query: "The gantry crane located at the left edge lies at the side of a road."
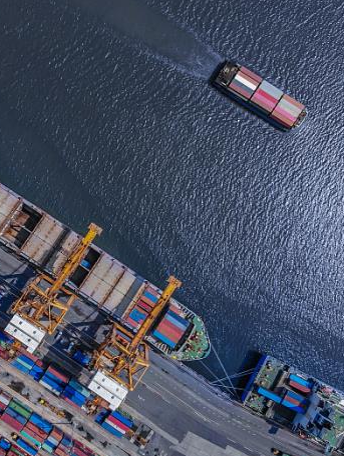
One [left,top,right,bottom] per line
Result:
[3,218,104,354]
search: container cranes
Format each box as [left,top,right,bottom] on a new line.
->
[3,218,104,354]
[82,273,183,410]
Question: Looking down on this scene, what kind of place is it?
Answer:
port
